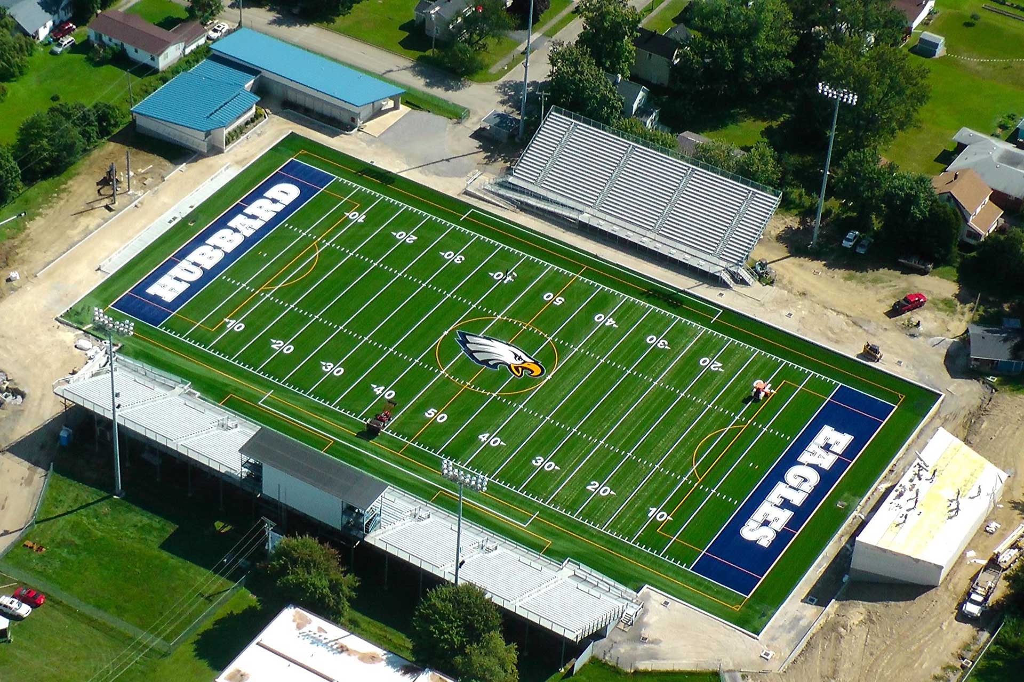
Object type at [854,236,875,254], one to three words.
car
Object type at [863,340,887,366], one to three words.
work vehicle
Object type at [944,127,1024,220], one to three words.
house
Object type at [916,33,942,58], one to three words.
shed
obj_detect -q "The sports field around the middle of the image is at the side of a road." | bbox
[58,133,942,636]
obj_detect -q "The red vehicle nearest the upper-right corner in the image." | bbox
[892,295,927,314]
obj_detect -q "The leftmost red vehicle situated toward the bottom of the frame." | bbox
[11,587,47,609]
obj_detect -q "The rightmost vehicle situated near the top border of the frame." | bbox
[206,22,228,39]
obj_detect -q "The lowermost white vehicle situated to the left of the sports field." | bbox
[0,594,31,620]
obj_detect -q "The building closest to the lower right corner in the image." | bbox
[844,425,1010,586]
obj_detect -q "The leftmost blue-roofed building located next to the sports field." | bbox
[131,58,261,153]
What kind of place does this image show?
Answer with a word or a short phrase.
sports ground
